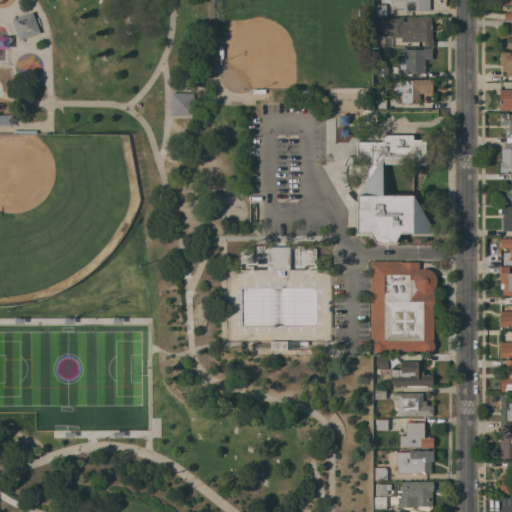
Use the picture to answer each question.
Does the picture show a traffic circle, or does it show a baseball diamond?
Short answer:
baseball diamond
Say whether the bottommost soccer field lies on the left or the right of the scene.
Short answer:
left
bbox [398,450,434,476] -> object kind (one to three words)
house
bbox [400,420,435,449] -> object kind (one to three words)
house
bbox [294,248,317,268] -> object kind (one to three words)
building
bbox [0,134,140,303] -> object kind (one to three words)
baseball field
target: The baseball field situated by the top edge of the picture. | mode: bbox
[216,0,374,93]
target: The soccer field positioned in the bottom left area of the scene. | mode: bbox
[0,325,148,432]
